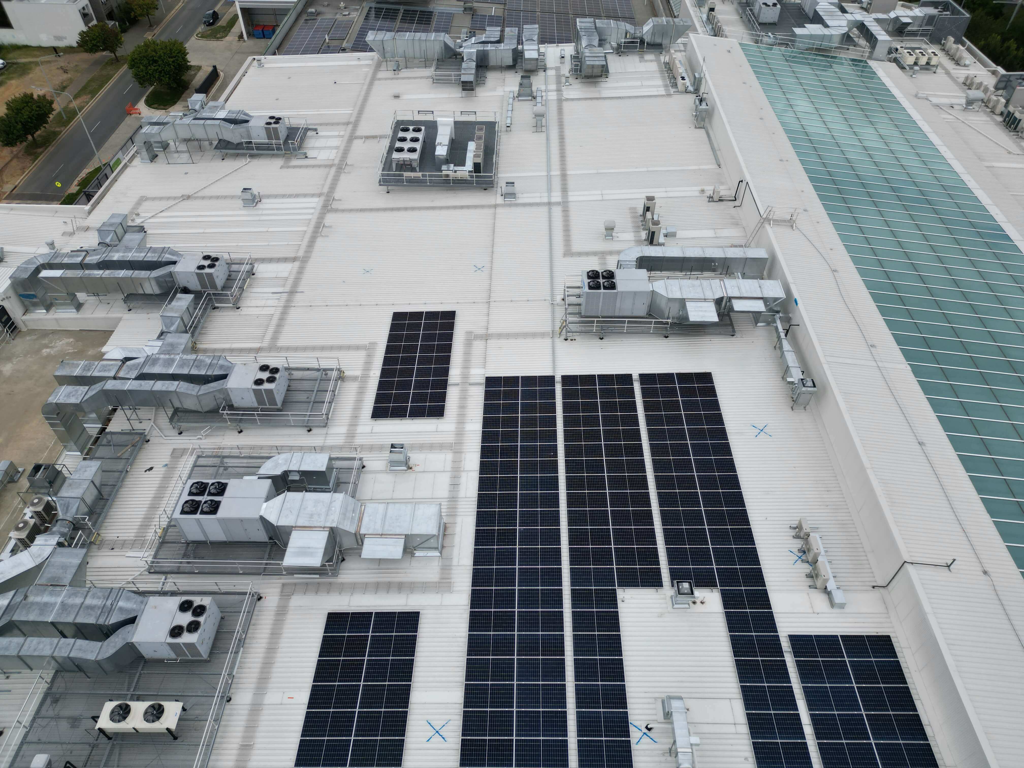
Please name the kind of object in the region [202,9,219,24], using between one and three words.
car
